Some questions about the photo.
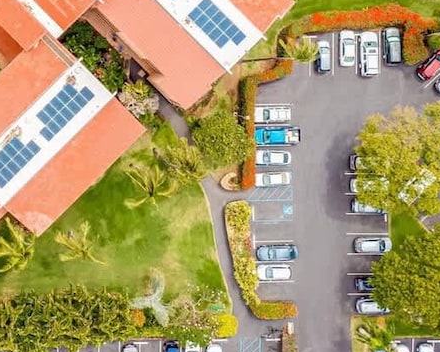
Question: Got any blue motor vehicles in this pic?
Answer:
Yes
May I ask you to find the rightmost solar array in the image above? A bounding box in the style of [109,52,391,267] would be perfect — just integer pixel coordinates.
[182,0,246,47]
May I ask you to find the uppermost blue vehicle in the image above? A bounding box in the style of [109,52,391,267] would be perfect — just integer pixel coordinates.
[258,128,302,145]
